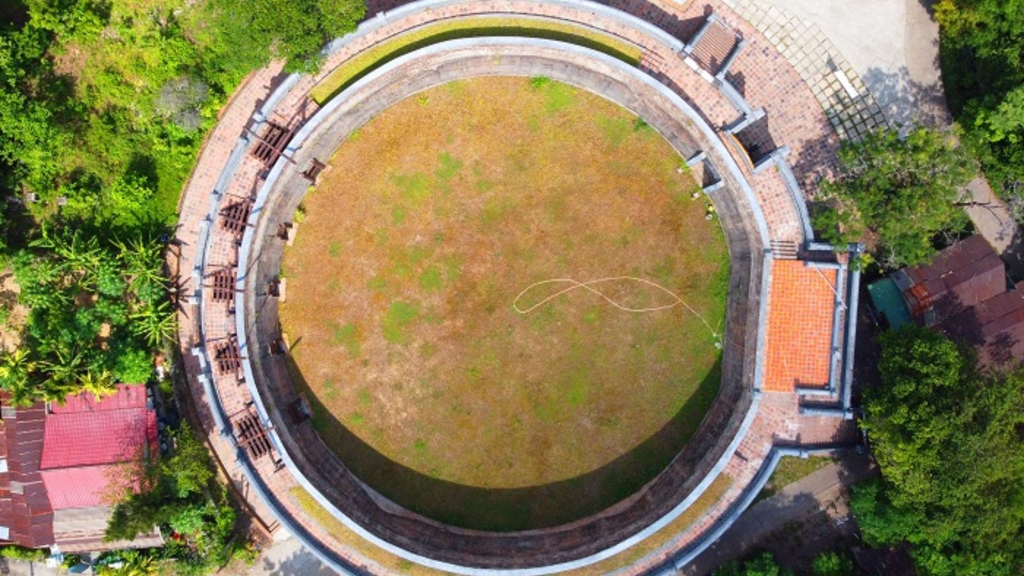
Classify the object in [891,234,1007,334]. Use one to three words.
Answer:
shed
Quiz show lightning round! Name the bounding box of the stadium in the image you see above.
[187,0,812,576]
